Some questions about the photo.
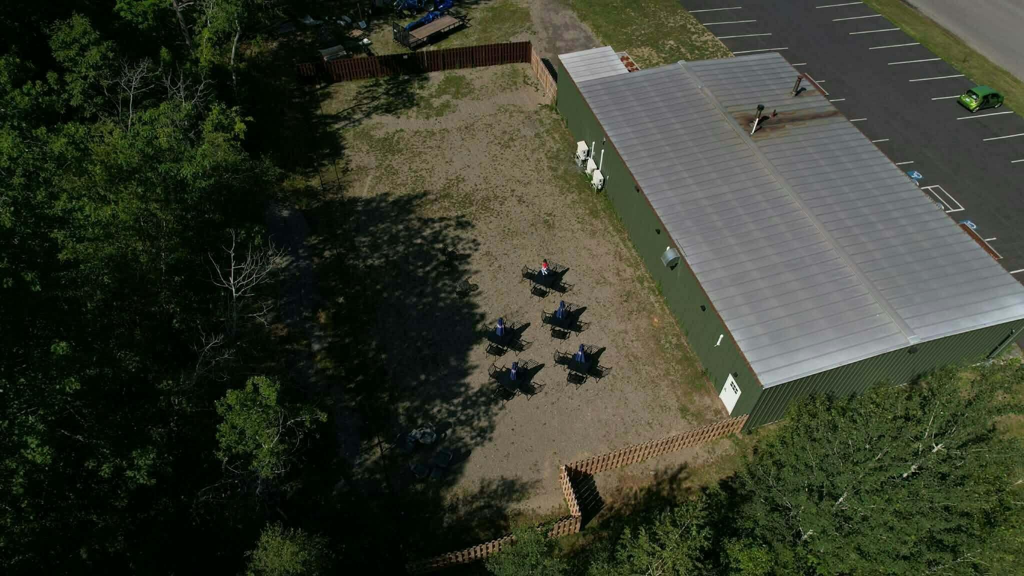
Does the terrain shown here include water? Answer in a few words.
No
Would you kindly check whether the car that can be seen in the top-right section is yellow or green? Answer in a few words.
green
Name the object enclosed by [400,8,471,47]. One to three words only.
trailer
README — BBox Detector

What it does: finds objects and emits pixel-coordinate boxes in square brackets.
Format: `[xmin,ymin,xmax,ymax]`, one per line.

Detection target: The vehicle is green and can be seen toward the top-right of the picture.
[957,80,1007,111]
